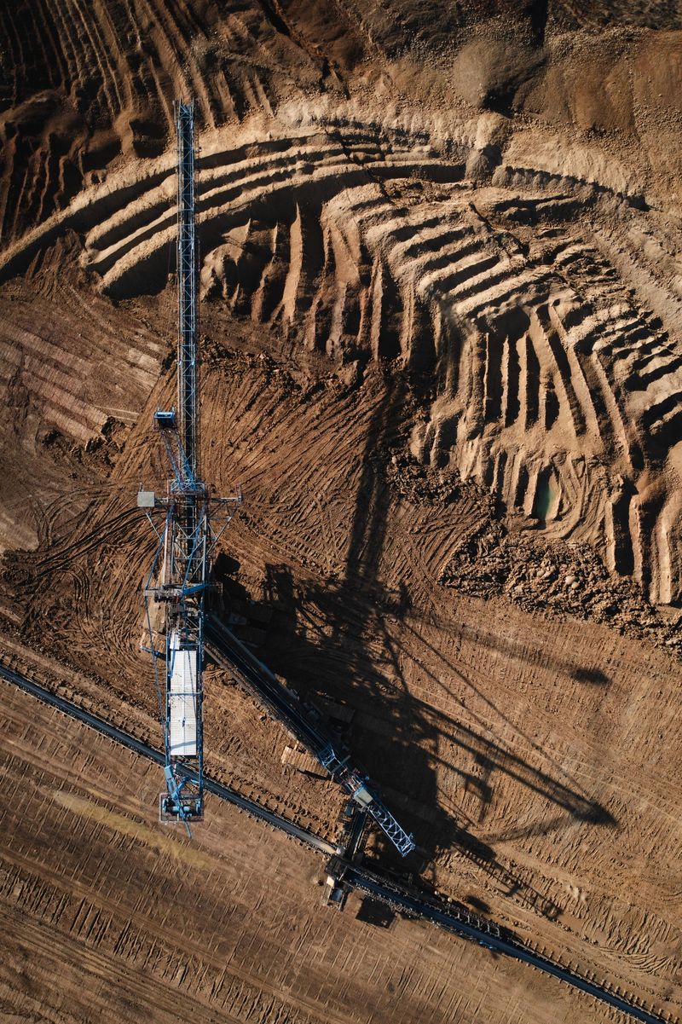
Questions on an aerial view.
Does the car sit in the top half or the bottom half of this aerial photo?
bottom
